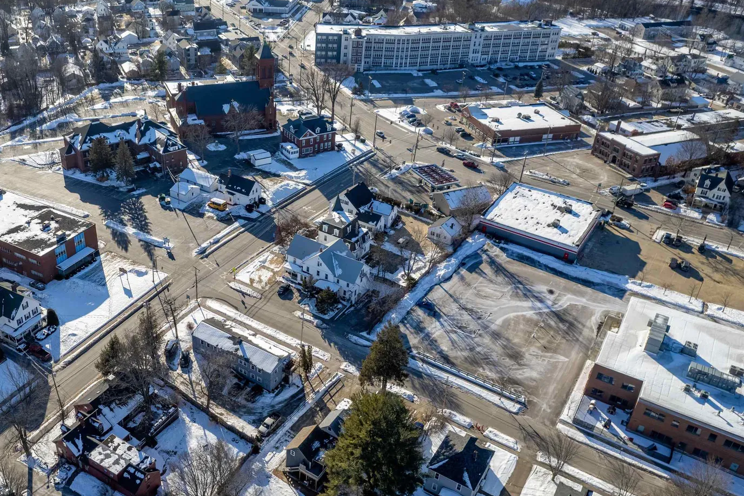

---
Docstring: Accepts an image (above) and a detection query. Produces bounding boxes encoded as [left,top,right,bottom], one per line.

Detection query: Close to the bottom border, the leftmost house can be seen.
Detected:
[52,375,163,496]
